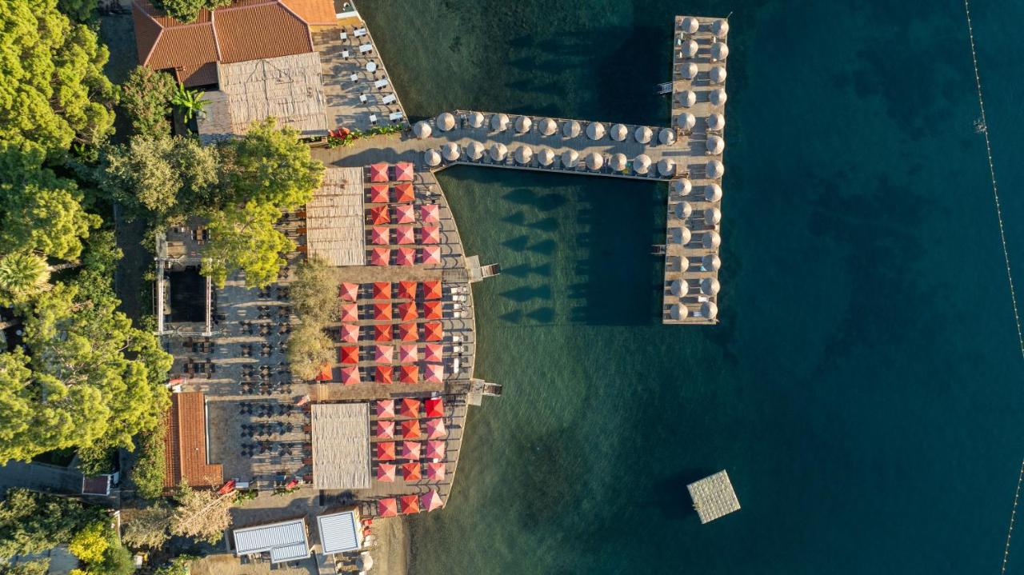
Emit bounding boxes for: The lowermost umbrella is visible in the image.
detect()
[354,552,375,573]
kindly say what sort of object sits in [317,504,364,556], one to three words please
building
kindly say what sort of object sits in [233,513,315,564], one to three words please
building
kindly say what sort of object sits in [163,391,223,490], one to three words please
shed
